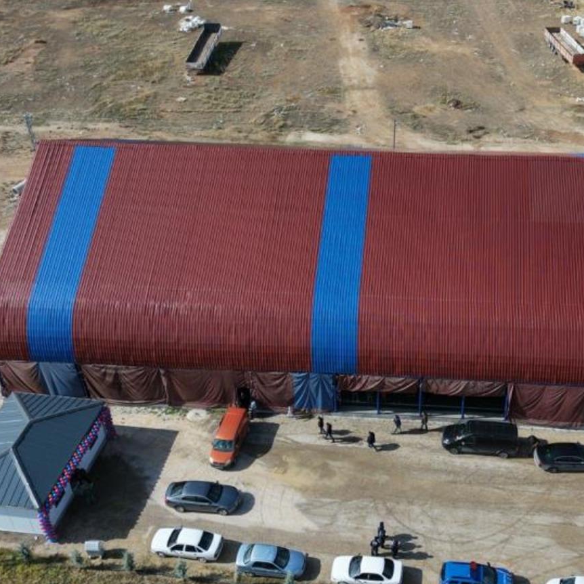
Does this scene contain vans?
Yes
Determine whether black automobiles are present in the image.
Yes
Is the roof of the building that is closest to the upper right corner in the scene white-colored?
No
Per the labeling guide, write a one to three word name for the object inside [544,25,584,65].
trailer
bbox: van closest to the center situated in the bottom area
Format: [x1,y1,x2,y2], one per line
[211,402,250,463]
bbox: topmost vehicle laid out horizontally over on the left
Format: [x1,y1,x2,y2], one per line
[163,480,243,517]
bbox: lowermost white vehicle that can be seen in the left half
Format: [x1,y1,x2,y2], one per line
[149,525,226,565]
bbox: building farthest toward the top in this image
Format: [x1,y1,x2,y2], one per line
[0,140,584,427]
